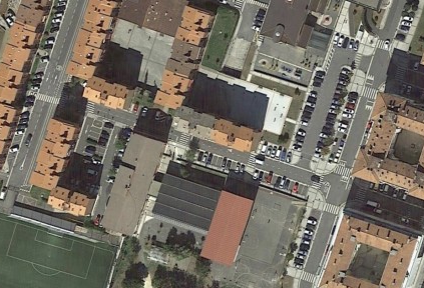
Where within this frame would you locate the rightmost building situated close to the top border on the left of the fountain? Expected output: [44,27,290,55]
[259,0,315,48]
